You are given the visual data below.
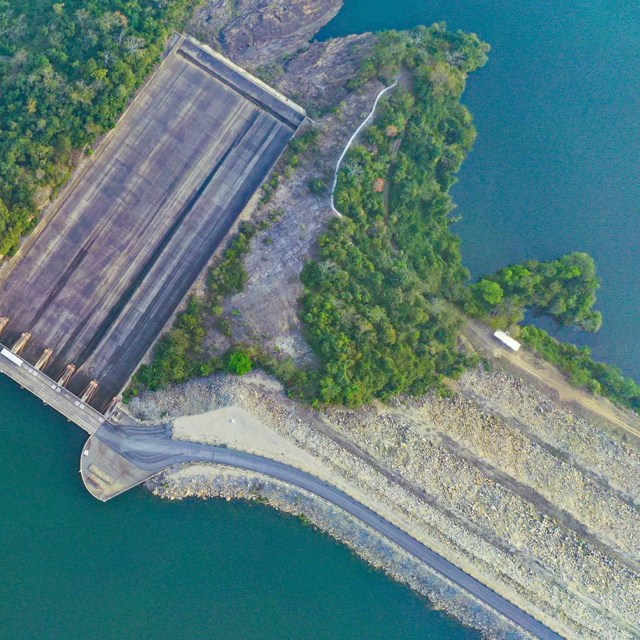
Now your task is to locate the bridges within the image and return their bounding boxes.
[0,340,108,434]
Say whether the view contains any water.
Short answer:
Yes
